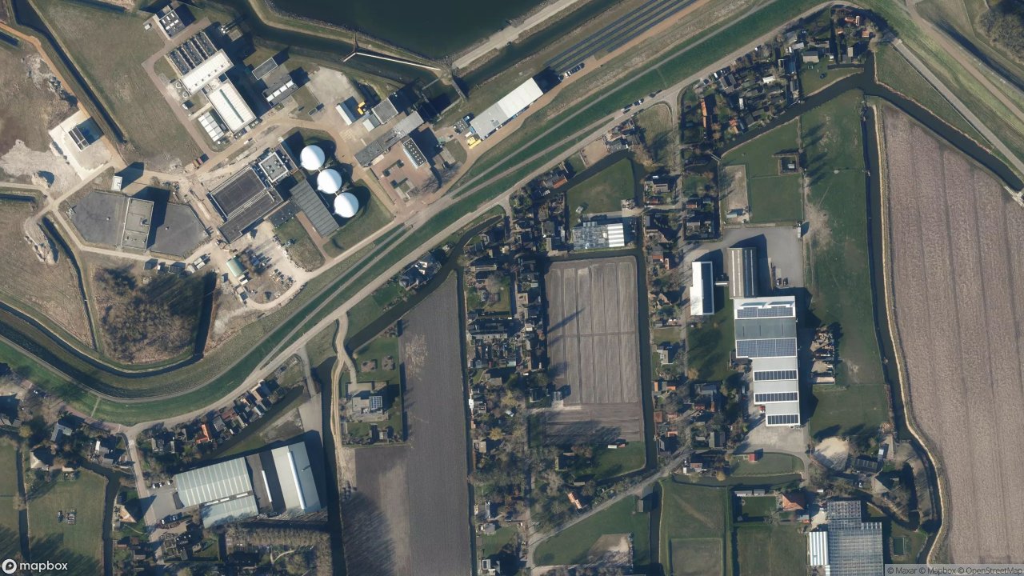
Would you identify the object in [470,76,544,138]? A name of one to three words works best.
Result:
shed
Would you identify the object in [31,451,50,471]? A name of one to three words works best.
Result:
house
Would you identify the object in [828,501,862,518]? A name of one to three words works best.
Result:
greenhouse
